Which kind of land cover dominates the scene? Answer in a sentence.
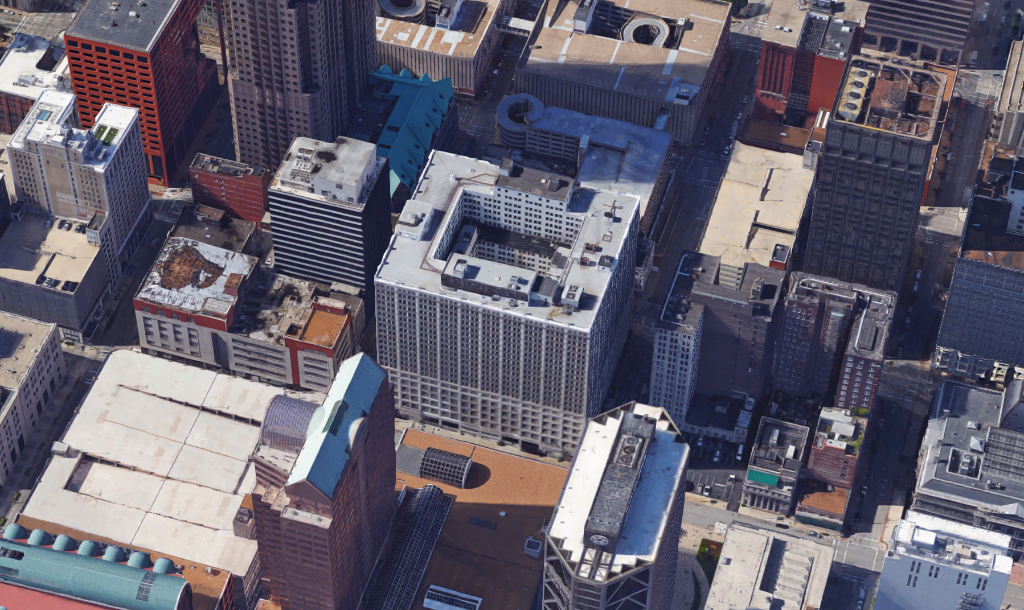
What you mostly see from above here is buildings.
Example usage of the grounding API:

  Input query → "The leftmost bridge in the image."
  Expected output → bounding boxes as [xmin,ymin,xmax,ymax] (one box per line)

[493,15,533,43]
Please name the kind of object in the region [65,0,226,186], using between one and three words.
building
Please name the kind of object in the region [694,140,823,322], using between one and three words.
building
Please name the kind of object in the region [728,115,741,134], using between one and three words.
vehicle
